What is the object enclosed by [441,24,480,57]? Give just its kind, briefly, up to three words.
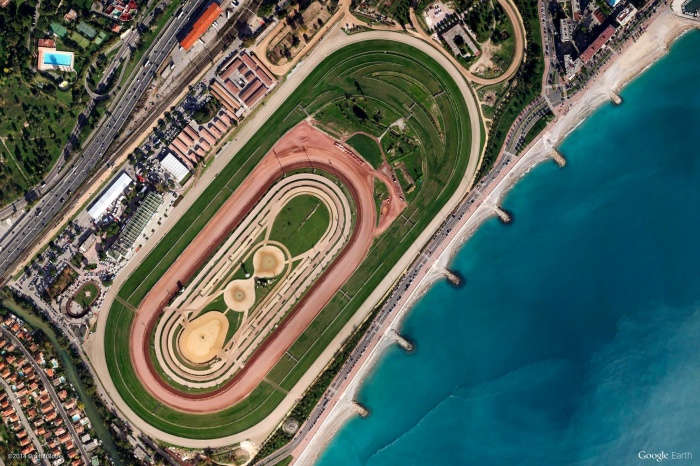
building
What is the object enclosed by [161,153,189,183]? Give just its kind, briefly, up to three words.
building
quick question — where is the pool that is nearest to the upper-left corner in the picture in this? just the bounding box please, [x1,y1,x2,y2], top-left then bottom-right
[38,46,75,70]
